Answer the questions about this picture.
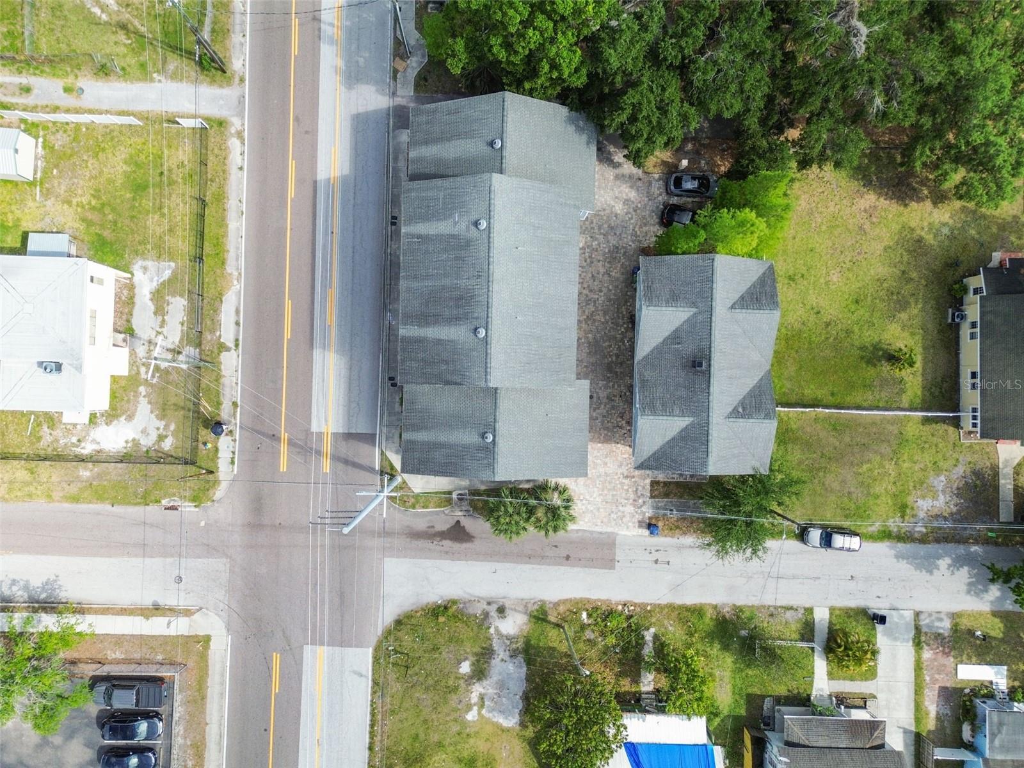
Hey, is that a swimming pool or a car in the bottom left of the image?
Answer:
car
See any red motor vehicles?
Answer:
No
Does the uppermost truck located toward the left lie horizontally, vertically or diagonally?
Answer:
horizontally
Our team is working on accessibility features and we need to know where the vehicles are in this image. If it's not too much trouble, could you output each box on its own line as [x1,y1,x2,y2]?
[800,524,859,552]
[106,745,164,768]
[661,174,715,201]
[106,708,169,740]
[101,675,174,707]
[658,204,706,234]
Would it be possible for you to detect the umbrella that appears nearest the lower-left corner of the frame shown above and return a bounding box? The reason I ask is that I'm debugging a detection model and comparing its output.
[208,422,222,436]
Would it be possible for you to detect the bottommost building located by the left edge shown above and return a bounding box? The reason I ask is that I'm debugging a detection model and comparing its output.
[0,256,131,422]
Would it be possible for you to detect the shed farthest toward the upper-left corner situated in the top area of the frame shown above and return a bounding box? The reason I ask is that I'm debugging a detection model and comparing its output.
[0,128,36,183]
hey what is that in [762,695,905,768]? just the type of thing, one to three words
house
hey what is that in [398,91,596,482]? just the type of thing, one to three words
building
